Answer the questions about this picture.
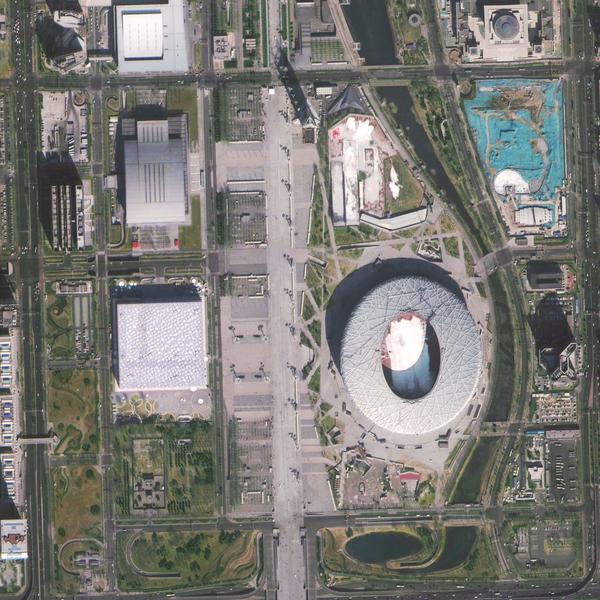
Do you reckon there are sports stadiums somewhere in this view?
Yes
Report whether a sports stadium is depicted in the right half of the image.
Yes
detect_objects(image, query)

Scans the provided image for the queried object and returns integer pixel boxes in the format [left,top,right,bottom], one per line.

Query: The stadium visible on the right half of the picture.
[341,274,481,435]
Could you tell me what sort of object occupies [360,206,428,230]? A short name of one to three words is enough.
building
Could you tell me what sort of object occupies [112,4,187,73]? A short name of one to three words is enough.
building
